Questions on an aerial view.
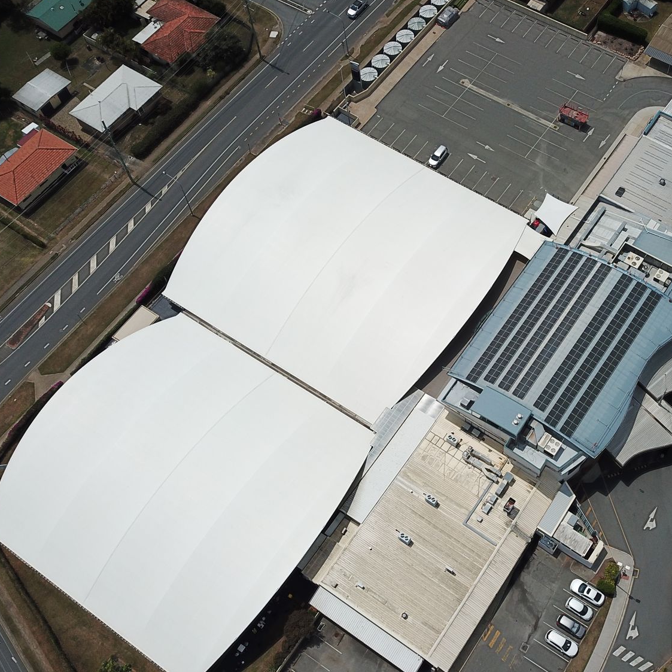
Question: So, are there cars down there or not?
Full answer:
Yes, the frame does contain a car.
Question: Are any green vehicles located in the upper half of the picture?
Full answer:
No, in the upper half of the picture there is no green vehicle.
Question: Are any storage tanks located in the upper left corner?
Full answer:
No, no storage tank is visible in the upper left corner.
